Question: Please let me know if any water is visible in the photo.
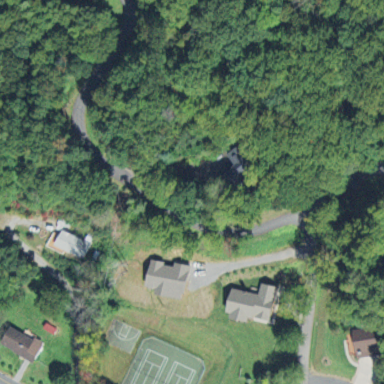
No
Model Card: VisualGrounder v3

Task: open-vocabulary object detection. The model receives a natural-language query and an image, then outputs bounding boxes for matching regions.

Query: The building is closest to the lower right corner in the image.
[347,327,378,356]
